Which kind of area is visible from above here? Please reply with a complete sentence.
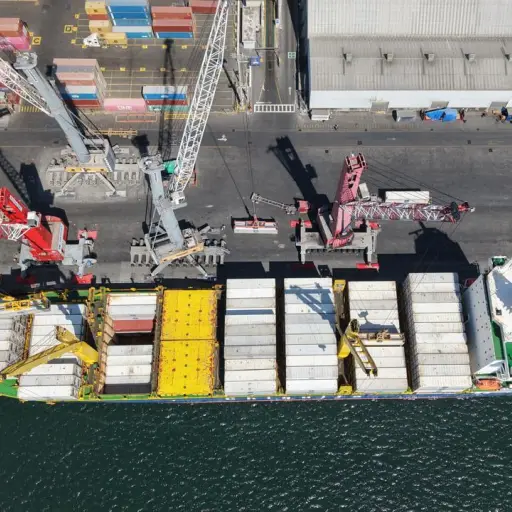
What you see here is a port.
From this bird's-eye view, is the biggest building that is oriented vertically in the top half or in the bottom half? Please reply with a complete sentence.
It is in the top half that the biggest building that is oriented vertically appears.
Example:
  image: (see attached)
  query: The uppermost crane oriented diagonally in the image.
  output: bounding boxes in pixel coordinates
[0,40,128,196]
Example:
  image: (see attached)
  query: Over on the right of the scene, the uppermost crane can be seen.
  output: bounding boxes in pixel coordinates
[296,151,476,336]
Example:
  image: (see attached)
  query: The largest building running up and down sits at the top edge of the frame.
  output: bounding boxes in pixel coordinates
[240,0,262,54]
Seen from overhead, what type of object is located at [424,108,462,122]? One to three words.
vehicle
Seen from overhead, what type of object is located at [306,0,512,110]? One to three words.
building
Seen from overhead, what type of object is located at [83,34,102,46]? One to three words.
vehicle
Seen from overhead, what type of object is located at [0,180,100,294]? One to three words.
crane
